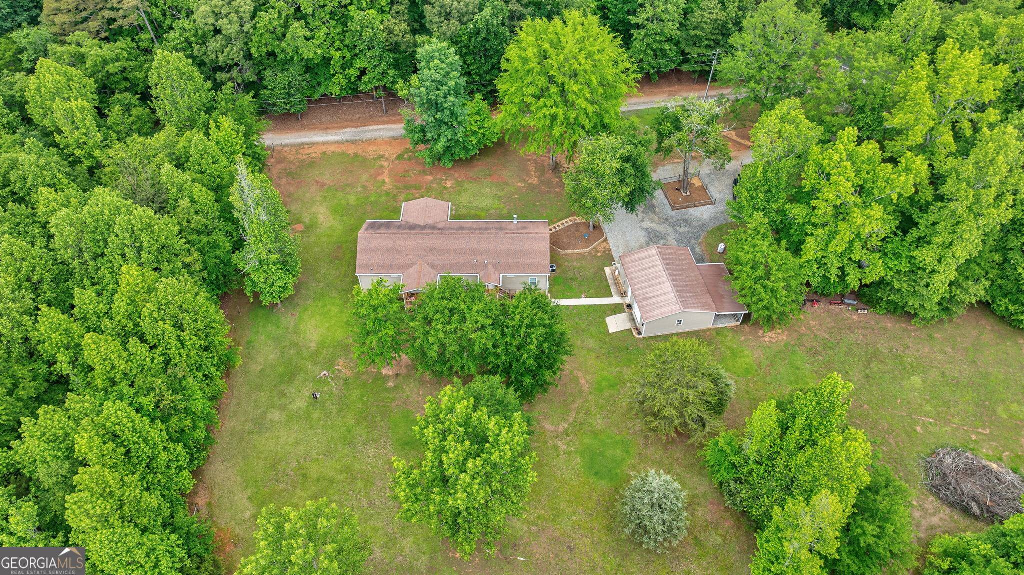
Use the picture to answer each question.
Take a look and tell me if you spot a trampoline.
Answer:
No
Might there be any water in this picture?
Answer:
No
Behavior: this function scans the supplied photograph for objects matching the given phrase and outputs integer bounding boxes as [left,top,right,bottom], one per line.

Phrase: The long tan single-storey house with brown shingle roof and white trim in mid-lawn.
[356,197,550,310]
